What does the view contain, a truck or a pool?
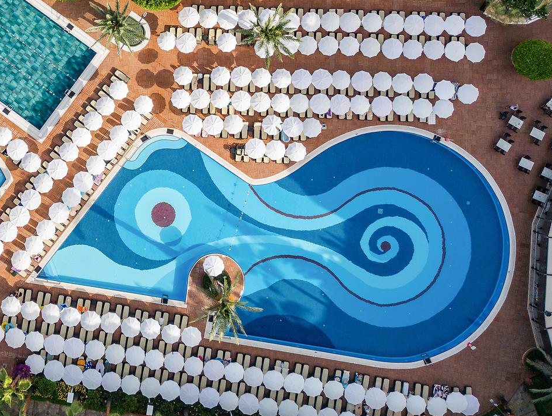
pool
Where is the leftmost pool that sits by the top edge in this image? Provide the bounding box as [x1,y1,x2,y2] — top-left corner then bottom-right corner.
[0,0,109,142]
